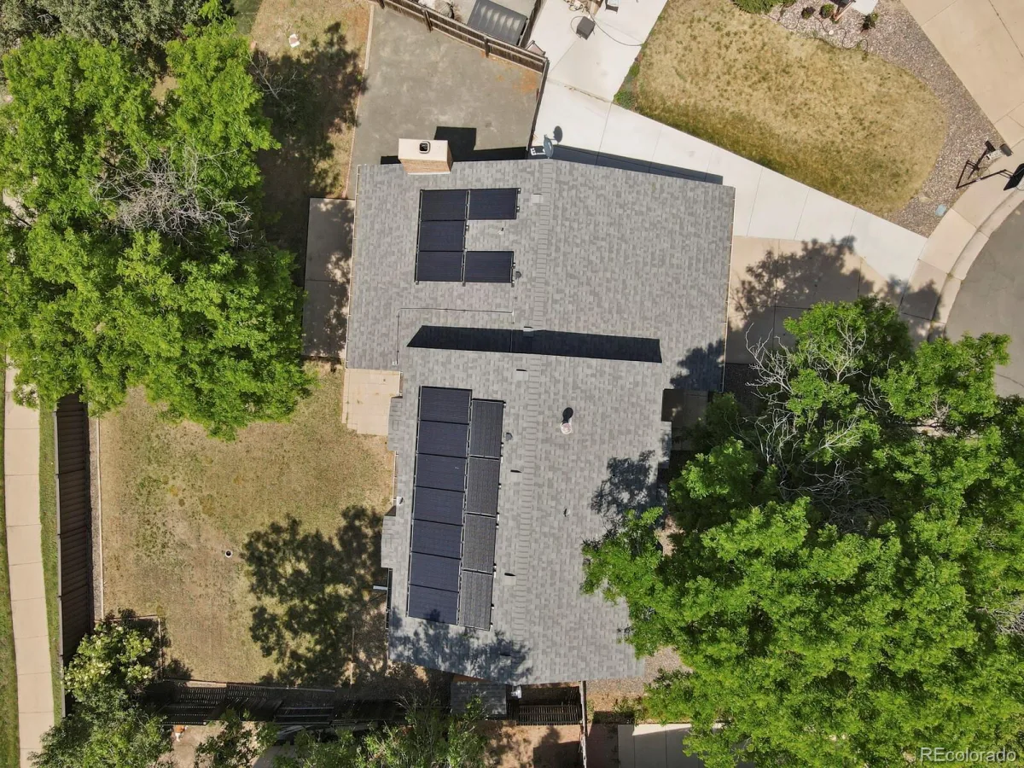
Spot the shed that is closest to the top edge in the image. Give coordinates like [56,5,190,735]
[468,0,527,47]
